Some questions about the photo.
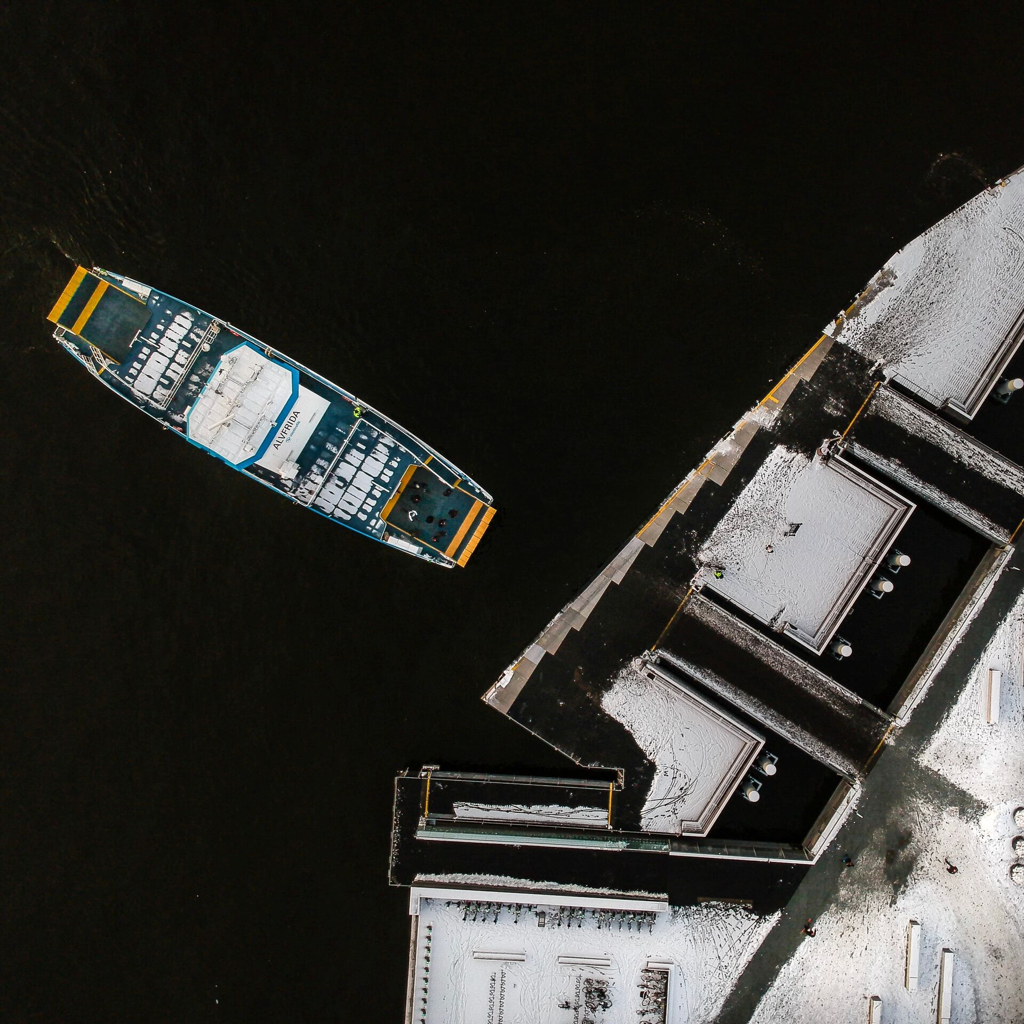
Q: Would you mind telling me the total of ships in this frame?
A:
1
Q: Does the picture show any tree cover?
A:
No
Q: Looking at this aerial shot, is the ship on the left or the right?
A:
left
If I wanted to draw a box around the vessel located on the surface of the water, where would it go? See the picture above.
[47,264,497,568]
